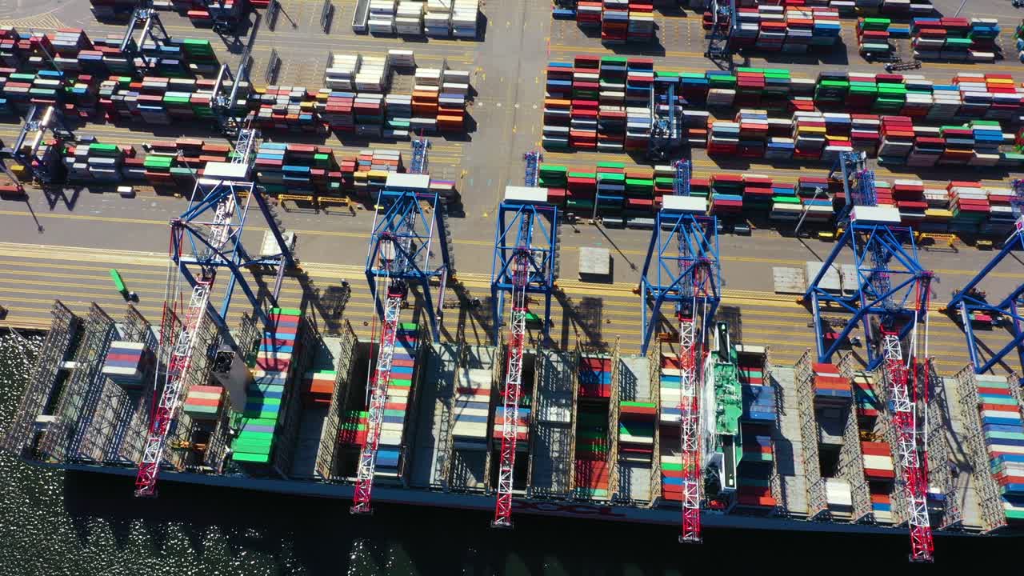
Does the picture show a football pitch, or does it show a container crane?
container crane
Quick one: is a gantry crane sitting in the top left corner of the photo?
Yes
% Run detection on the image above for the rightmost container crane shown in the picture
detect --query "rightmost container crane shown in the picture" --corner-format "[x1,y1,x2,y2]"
[937,178,1024,381]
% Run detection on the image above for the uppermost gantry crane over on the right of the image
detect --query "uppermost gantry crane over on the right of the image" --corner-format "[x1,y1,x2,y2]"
[701,0,735,64]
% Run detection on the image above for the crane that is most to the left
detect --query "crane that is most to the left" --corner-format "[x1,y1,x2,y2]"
[14,108,81,188]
